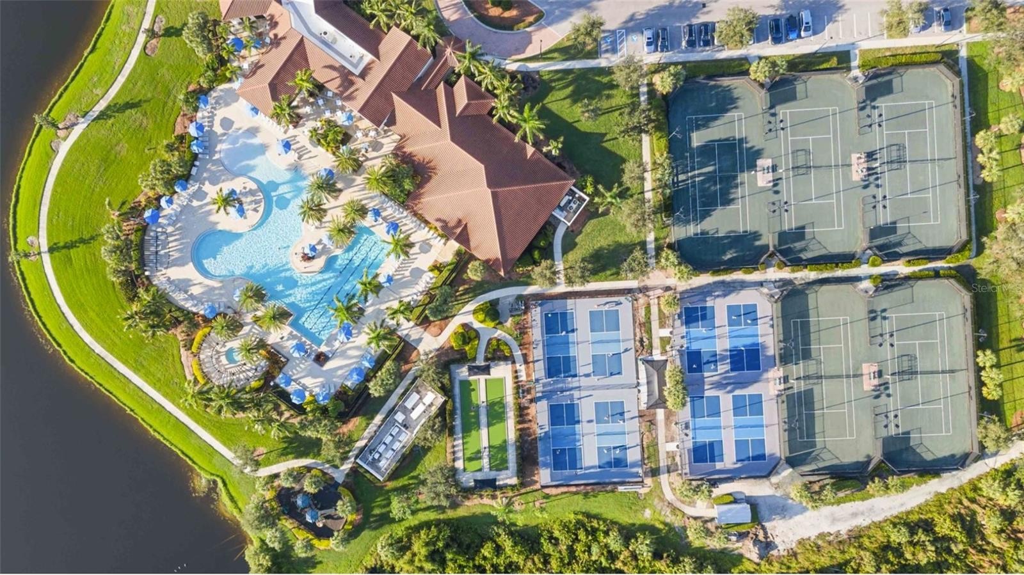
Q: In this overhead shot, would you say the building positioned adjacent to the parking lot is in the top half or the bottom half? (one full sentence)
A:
It is in the top half that the building positioned adjacent to the parking lot appears.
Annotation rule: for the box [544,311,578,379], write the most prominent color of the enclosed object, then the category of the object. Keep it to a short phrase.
blue sports court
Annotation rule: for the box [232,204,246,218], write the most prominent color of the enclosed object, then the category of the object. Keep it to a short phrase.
blue umbrella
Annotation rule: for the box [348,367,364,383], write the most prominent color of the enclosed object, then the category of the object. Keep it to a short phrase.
blue umbrella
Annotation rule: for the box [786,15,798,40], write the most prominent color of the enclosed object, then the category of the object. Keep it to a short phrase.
blue vehicle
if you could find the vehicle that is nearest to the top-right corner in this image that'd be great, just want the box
[937,7,950,32]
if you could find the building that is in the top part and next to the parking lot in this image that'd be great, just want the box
[215,0,574,275]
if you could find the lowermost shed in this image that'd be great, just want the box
[716,503,753,525]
